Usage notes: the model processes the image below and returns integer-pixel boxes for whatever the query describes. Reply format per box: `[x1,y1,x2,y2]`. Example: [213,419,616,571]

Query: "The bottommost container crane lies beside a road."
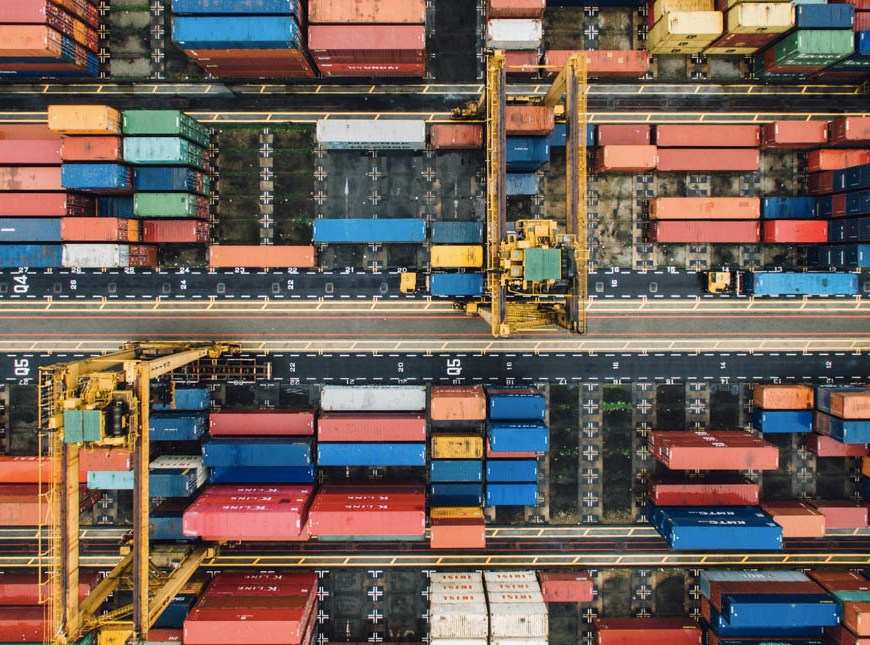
[29,345,240,644]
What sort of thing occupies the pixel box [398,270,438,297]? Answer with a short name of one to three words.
truck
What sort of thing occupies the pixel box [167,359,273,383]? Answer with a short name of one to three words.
trailer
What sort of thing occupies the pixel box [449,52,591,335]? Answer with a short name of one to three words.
container crane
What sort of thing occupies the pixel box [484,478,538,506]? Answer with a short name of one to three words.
shipping container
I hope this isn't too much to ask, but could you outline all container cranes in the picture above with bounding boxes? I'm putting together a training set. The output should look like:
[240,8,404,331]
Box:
[449,52,591,335]
[29,345,240,644]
